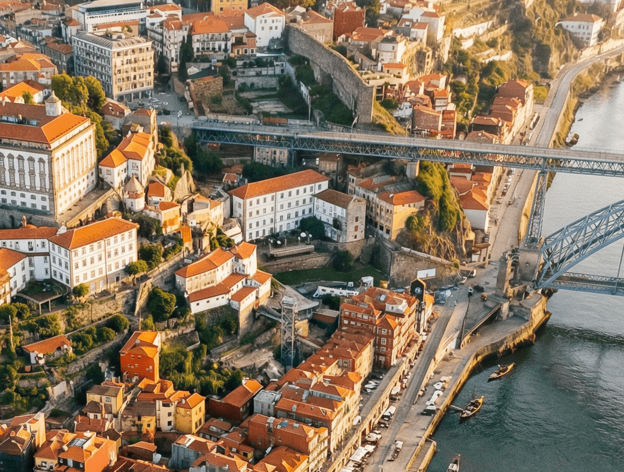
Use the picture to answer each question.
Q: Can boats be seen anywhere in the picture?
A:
Yes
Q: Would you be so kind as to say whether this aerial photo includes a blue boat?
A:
No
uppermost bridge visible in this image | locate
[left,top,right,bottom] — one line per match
[191,117,624,297]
